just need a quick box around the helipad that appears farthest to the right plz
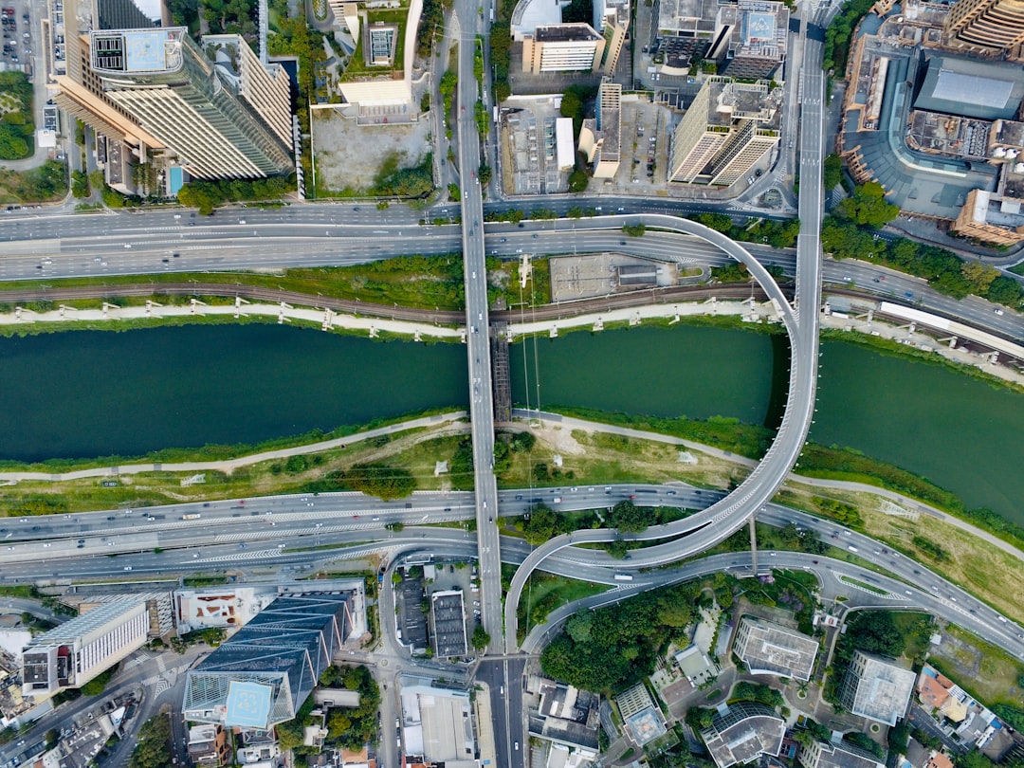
[748,13,775,39]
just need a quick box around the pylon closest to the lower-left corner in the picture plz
[178,471,207,492]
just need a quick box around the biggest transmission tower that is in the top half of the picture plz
[517,264,531,282]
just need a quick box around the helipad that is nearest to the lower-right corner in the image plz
[628,708,662,743]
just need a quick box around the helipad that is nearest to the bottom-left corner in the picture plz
[226,680,272,727]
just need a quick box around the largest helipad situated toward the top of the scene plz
[127,31,167,69]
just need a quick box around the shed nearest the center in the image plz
[610,265,663,287]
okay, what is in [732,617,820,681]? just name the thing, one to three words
building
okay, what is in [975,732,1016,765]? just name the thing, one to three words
house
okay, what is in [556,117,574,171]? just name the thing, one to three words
shed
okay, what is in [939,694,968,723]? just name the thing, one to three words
house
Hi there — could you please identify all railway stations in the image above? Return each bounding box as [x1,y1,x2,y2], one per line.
[872,304,1024,364]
